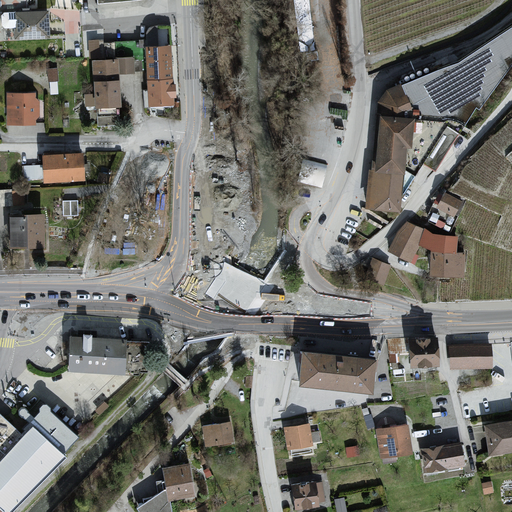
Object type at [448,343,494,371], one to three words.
barn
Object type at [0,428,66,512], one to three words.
building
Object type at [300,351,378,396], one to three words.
house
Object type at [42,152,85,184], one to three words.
house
